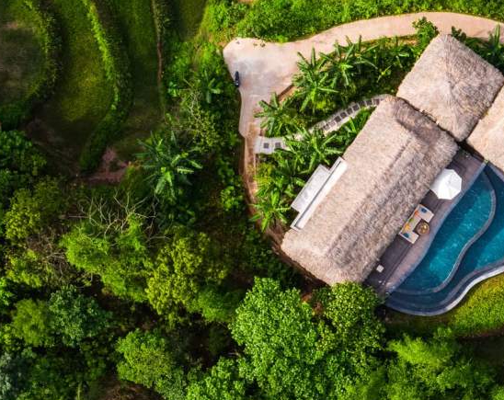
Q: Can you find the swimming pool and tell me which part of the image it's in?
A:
right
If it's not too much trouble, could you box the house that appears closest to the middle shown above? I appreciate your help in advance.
[287,101,455,290]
